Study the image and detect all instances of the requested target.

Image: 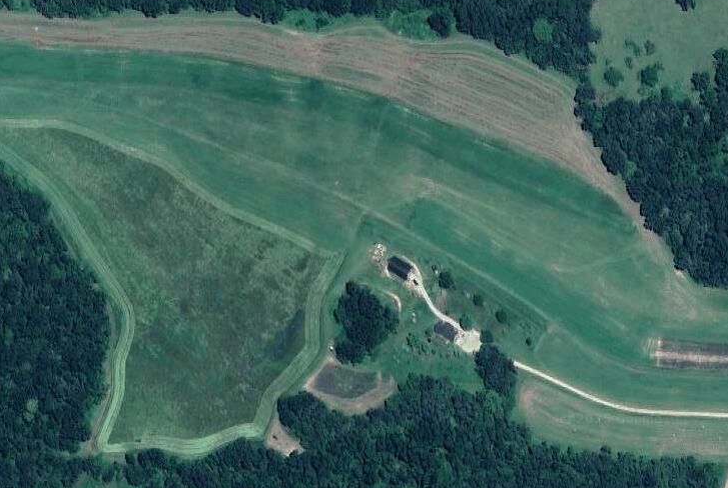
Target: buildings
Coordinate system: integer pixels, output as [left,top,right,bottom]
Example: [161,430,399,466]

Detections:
[434,320,457,341]
[388,257,411,279]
